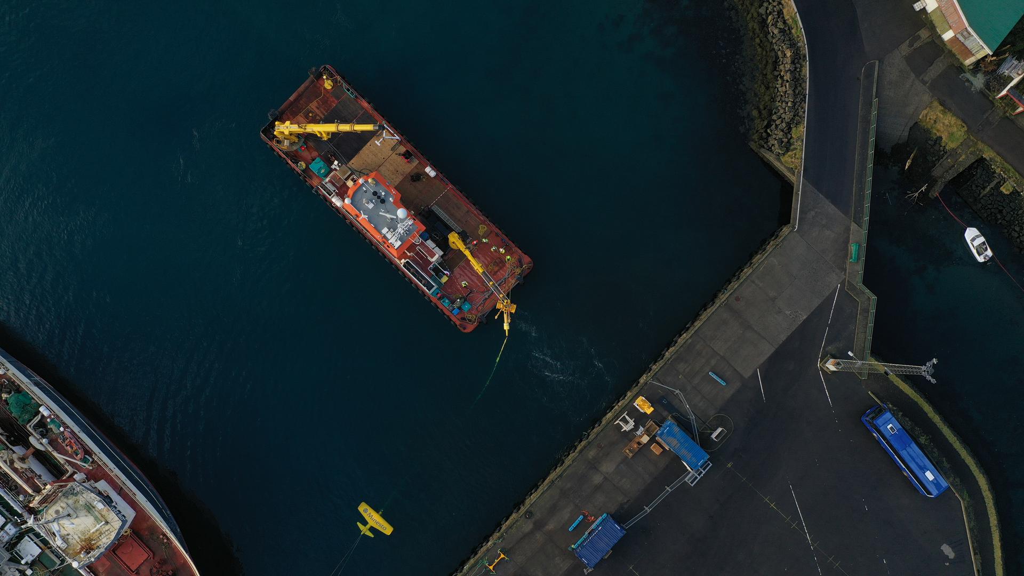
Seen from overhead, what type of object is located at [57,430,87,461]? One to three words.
boat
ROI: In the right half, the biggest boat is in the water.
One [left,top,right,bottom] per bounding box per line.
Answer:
[966,227,991,262]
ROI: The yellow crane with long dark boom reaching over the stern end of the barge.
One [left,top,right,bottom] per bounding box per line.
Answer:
[445,232,517,335]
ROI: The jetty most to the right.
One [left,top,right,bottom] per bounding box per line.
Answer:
[923,137,980,202]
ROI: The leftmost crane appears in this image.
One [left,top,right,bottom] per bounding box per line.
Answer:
[271,119,386,151]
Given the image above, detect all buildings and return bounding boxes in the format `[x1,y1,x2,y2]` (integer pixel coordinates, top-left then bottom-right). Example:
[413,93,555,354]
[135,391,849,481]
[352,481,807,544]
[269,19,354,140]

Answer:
[988,68,1024,116]
[925,0,1024,66]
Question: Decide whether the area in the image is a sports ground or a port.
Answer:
port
